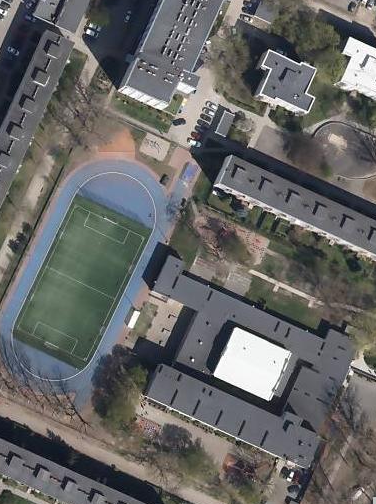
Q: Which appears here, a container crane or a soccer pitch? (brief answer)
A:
soccer pitch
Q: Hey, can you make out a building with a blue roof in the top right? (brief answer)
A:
No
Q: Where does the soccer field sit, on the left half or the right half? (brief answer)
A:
left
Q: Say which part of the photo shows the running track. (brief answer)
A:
left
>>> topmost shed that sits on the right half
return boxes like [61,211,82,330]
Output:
[254,1,279,24]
